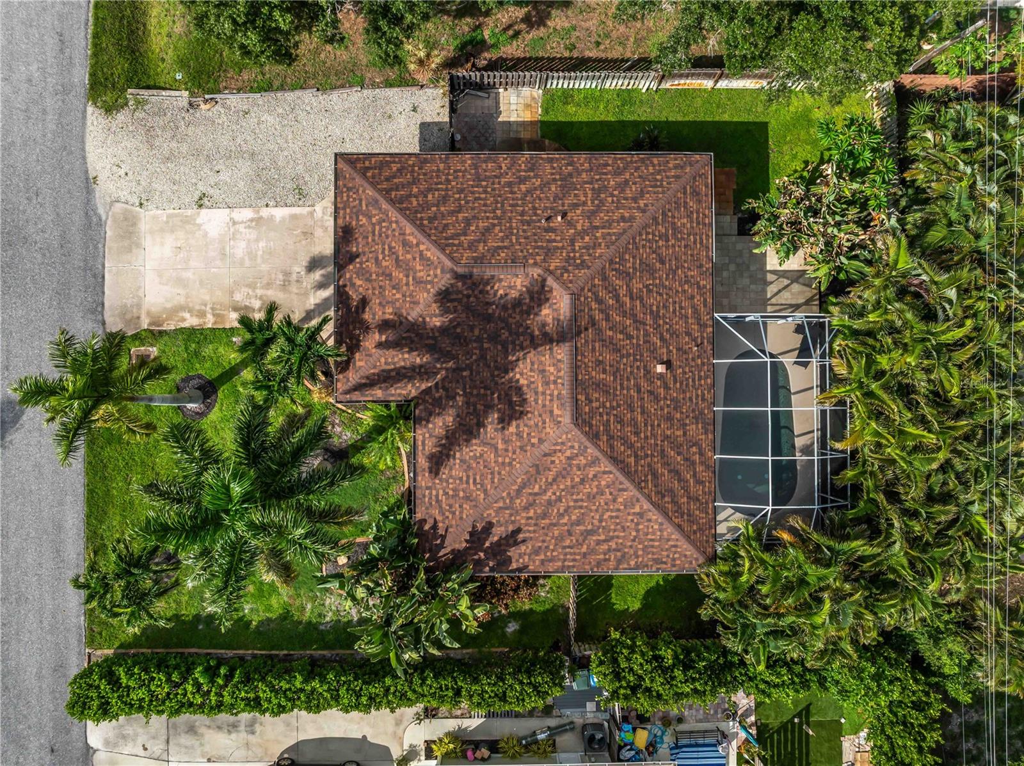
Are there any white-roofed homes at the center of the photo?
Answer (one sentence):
No, no white-roofed home can be made out at the center of the photo.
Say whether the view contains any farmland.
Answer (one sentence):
No, the scene doesn't show any farmland.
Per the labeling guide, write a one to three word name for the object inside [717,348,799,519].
swimming pool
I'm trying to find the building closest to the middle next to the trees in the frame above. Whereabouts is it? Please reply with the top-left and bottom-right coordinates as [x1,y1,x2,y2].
[332,150,717,575]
